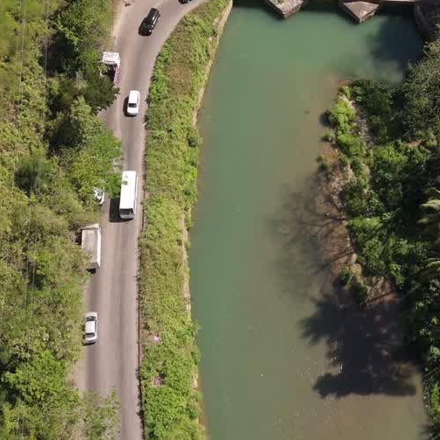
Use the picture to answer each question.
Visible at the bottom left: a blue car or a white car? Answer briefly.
white car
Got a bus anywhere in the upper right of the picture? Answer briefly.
No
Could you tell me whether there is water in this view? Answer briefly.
Yes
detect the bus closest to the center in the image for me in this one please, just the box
[117,174,141,223]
